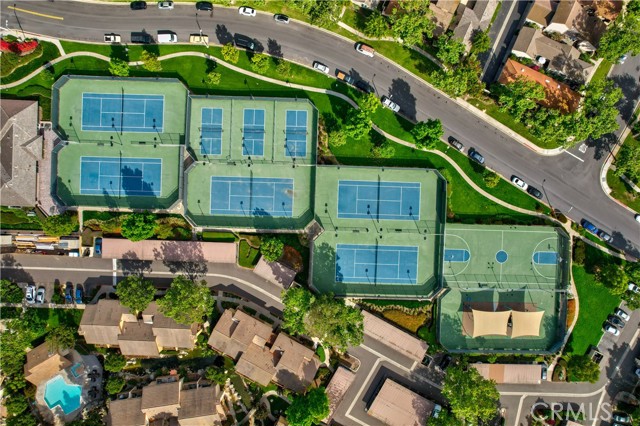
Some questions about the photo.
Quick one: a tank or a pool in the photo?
pool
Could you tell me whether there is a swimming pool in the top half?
No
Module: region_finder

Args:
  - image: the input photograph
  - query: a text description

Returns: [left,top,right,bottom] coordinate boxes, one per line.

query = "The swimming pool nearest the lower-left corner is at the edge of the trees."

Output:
[44,374,81,415]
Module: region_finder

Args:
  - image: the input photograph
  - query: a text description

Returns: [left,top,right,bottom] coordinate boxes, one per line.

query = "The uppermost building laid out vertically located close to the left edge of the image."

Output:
[0,99,46,206]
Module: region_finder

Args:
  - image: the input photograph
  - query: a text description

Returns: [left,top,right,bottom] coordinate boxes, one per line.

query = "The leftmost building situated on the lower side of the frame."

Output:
[27,343,76,386]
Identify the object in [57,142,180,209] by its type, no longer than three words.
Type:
tennis court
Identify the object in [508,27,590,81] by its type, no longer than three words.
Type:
house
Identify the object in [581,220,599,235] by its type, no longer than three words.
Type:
car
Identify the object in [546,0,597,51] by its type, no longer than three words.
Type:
house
